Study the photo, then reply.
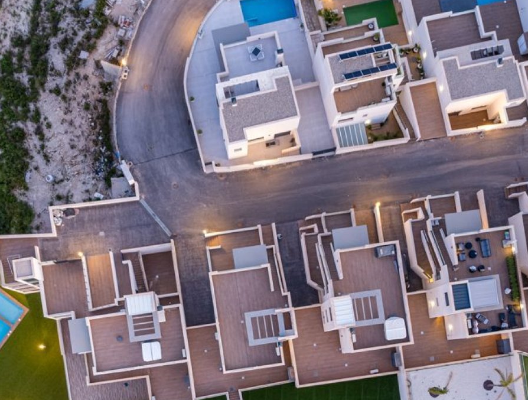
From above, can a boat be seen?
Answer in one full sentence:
No, there appears to be no boat in this shot.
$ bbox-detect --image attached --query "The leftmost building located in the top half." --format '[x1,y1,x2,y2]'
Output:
[213,23,301,157]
